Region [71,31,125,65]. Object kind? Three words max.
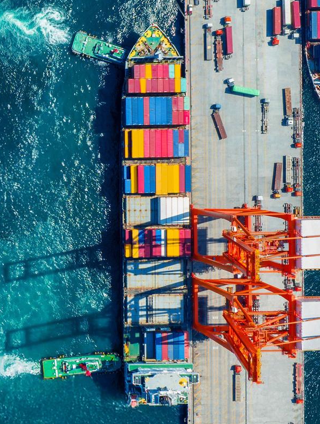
boat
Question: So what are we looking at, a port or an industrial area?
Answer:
port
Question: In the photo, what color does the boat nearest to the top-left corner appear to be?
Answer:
green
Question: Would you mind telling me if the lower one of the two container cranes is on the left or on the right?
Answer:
right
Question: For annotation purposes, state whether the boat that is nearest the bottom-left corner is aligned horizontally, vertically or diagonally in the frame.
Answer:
horizontally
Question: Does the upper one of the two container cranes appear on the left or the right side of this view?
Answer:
right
